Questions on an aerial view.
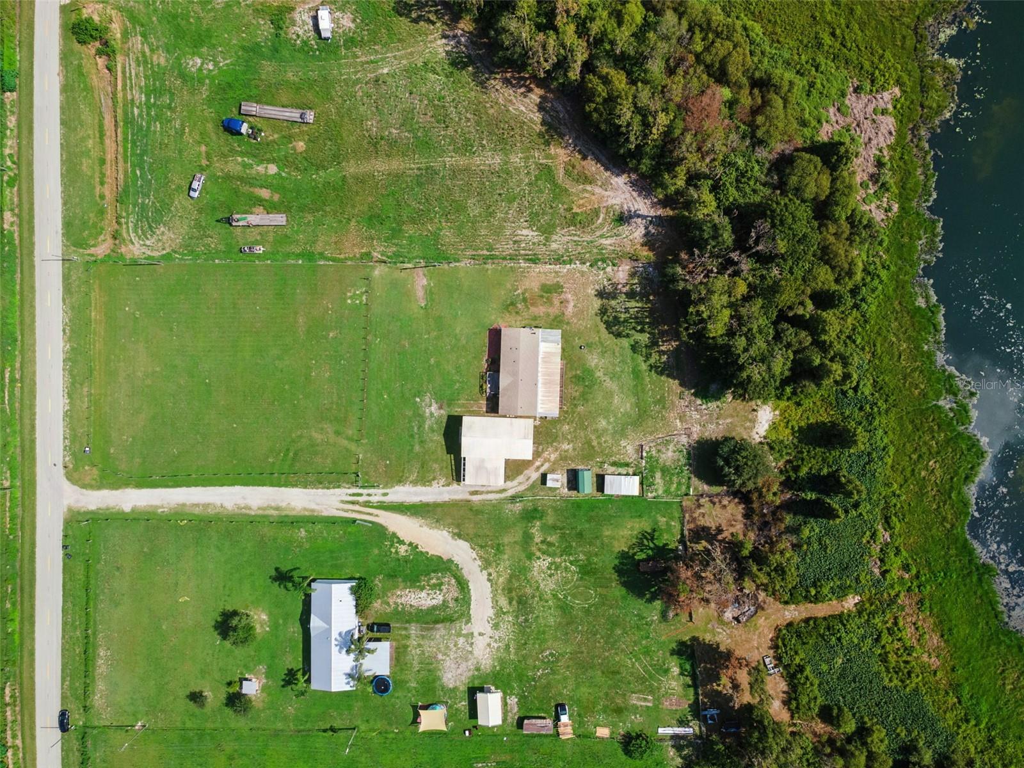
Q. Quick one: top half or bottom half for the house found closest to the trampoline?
bottom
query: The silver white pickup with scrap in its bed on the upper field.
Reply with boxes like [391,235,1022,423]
[189,172,205,199]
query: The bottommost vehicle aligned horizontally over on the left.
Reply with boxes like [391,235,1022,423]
[367,623,392,635]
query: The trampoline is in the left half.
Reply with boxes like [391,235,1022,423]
[373,676,392,697]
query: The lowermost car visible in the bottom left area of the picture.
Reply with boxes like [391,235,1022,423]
[57,709,70,732]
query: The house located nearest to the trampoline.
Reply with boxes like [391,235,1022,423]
[308,580,358,693]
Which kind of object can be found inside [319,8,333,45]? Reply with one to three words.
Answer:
vehicle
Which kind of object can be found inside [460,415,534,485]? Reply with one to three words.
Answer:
building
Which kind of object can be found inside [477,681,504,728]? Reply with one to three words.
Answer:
shed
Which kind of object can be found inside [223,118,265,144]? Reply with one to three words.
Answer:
truck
